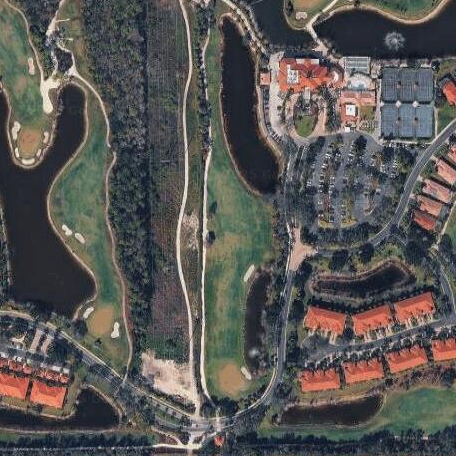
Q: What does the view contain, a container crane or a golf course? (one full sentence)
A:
There is a golf course in the scene.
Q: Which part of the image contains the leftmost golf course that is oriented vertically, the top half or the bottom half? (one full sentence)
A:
You can find the leftmost golf course that is oriented vertically in the top half.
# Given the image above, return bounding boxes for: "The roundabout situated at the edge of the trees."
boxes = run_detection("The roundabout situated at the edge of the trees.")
[283,97,325,140]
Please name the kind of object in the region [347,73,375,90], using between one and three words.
swimming pool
